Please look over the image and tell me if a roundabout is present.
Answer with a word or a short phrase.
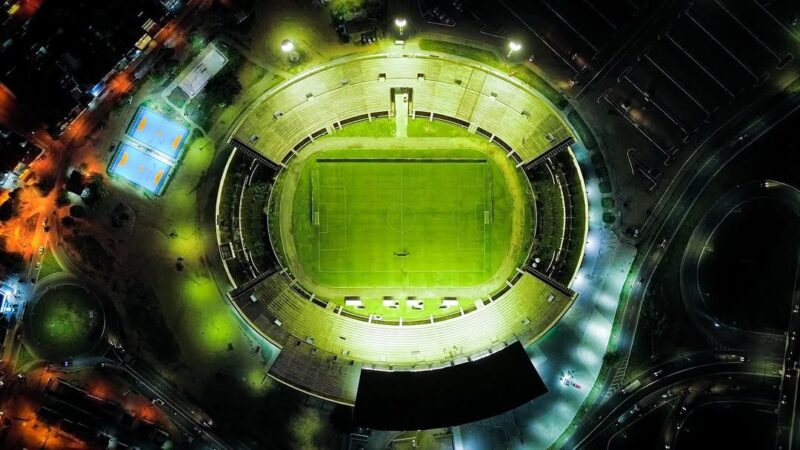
Yes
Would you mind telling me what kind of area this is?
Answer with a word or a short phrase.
sports ground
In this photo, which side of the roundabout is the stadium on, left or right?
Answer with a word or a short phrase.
right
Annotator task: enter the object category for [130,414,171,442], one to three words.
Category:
shed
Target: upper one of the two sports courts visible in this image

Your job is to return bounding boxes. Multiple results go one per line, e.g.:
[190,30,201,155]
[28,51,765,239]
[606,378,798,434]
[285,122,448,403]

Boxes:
[122,105,192,161]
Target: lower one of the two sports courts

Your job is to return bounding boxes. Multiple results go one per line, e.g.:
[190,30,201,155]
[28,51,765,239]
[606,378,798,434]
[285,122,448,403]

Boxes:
[103,139,173,197]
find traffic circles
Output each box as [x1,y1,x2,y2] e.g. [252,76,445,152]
[19,270,116,367]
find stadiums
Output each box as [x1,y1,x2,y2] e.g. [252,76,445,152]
[216,52,588,430]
